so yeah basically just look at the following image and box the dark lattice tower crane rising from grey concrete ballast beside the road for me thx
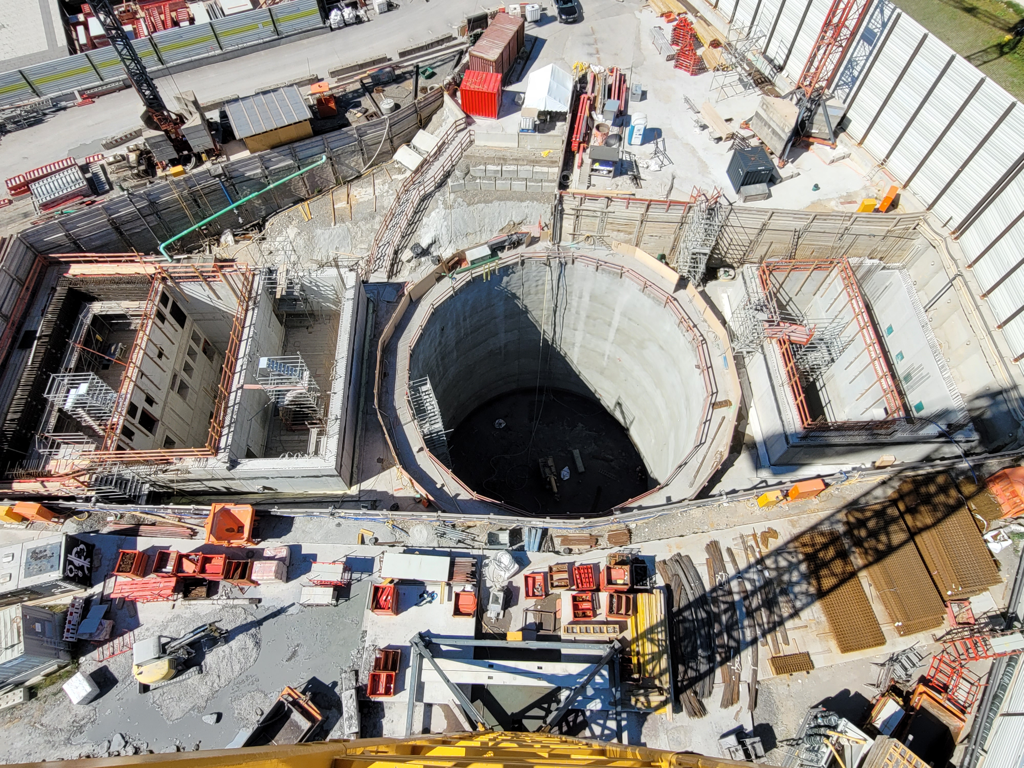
[78,0,215,166]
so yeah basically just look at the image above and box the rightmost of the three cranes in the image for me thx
[738,0,875,169]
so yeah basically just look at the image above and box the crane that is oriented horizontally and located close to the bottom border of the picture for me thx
[0,609,827,768]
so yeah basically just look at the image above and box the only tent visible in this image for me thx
[522,64,573,130]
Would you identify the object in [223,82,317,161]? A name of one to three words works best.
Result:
shed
